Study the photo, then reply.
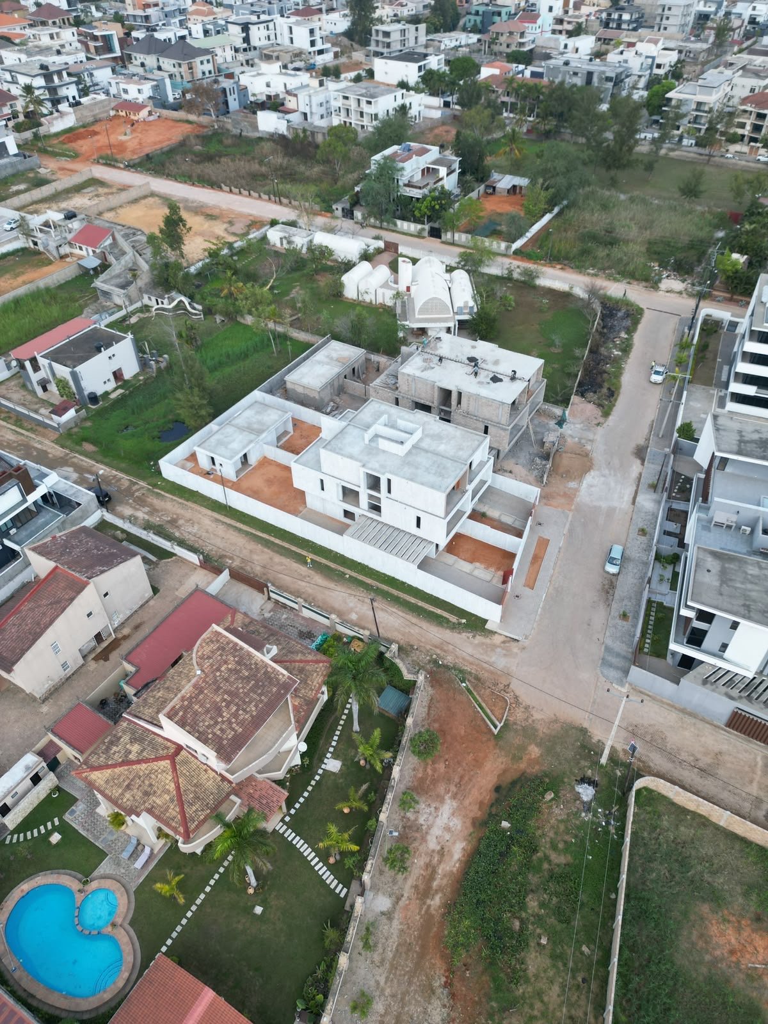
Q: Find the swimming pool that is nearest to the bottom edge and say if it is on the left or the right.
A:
left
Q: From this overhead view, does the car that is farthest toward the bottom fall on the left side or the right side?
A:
right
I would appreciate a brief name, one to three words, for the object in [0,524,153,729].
house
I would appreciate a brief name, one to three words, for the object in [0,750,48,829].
shed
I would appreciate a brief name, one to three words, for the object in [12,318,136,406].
house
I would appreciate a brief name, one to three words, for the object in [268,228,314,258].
building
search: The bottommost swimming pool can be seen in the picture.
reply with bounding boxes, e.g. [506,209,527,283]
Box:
[0,868,141,1020]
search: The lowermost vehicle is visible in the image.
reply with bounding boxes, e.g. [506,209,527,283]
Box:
[604,542,625,574]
